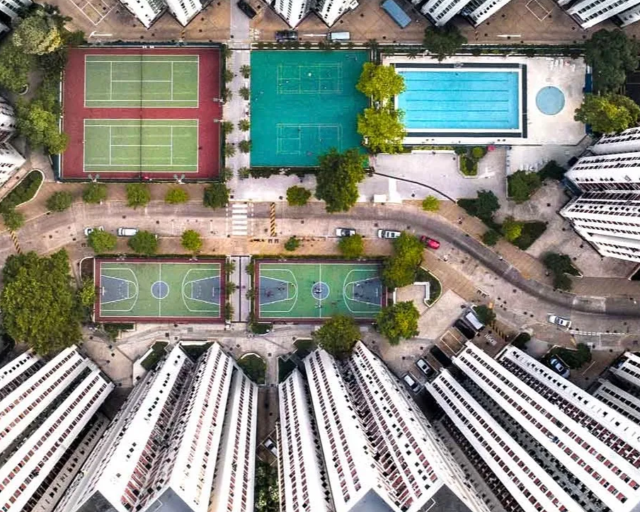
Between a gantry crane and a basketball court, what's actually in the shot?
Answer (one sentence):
This aerial view contains a basketball court.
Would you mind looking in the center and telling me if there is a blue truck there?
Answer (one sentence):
No, the scene shows no blue truck in the center.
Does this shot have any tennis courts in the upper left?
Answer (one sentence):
Yes, there is a tennis court in the upper left.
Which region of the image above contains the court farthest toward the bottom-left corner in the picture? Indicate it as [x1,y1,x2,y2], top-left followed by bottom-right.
[93,258,227,322]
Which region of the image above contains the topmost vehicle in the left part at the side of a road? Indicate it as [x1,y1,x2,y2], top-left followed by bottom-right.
[236,0,257,18]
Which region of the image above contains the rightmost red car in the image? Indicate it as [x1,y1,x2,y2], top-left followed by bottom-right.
[423,236,440,249]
